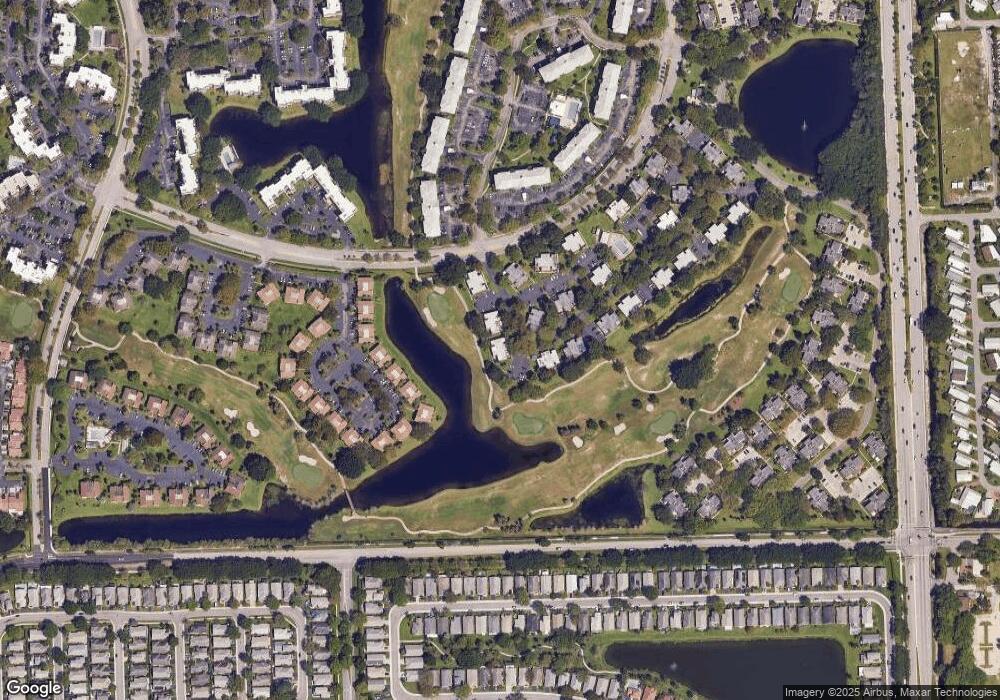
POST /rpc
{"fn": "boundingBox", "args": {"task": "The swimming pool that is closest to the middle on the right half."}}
[607,232,633,260]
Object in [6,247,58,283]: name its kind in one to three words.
building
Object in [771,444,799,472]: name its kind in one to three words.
house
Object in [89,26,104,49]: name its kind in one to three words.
swimming pool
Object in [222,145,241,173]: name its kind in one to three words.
swimming pool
